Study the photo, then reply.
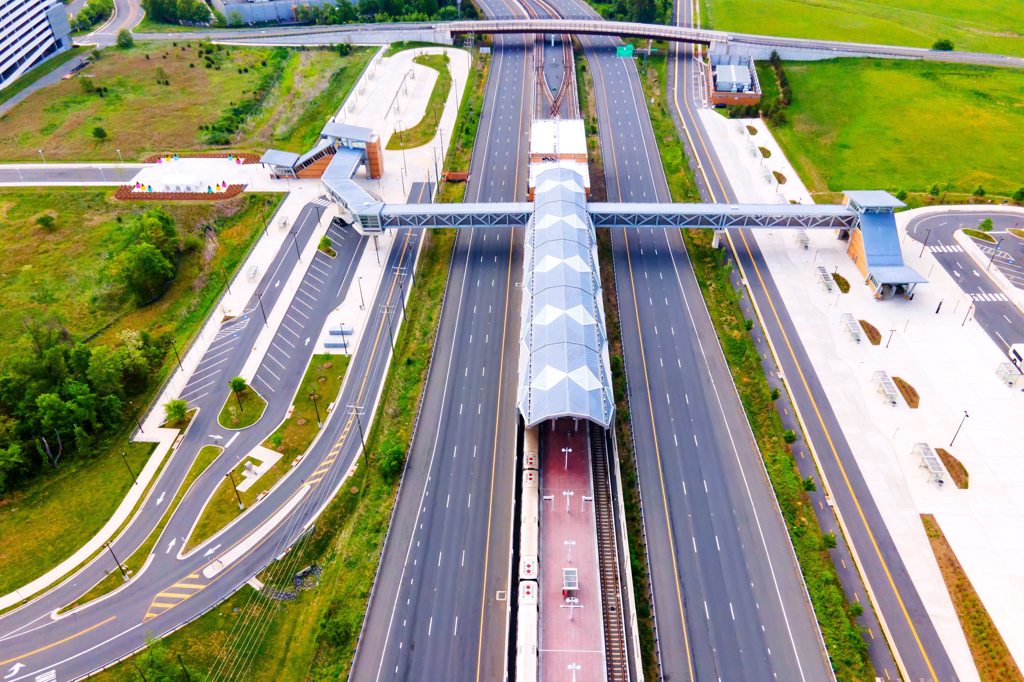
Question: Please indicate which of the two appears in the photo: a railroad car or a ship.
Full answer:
Visible in the photo is a railroad car.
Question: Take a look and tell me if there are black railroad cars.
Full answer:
No, the photo shows no black railroad car.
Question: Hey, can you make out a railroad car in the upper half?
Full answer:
No, I can find no railroad car in the upper half.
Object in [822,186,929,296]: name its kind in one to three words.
building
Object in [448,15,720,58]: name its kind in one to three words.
overpass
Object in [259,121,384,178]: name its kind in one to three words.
building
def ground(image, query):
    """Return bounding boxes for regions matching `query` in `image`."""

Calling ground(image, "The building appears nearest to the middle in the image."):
[529,116,590,180]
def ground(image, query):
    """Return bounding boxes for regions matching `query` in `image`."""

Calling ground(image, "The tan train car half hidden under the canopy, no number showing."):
[522,422,540,477]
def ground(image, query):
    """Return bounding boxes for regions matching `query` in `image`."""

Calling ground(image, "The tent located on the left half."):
[160,176,206,191]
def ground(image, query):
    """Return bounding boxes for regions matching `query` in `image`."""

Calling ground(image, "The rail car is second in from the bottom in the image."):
[519,471,539,589]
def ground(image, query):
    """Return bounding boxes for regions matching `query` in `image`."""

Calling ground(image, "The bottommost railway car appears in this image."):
[515,582,538,682]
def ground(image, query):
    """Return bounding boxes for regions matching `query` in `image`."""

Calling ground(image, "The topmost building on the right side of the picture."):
[709,54,763,105]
